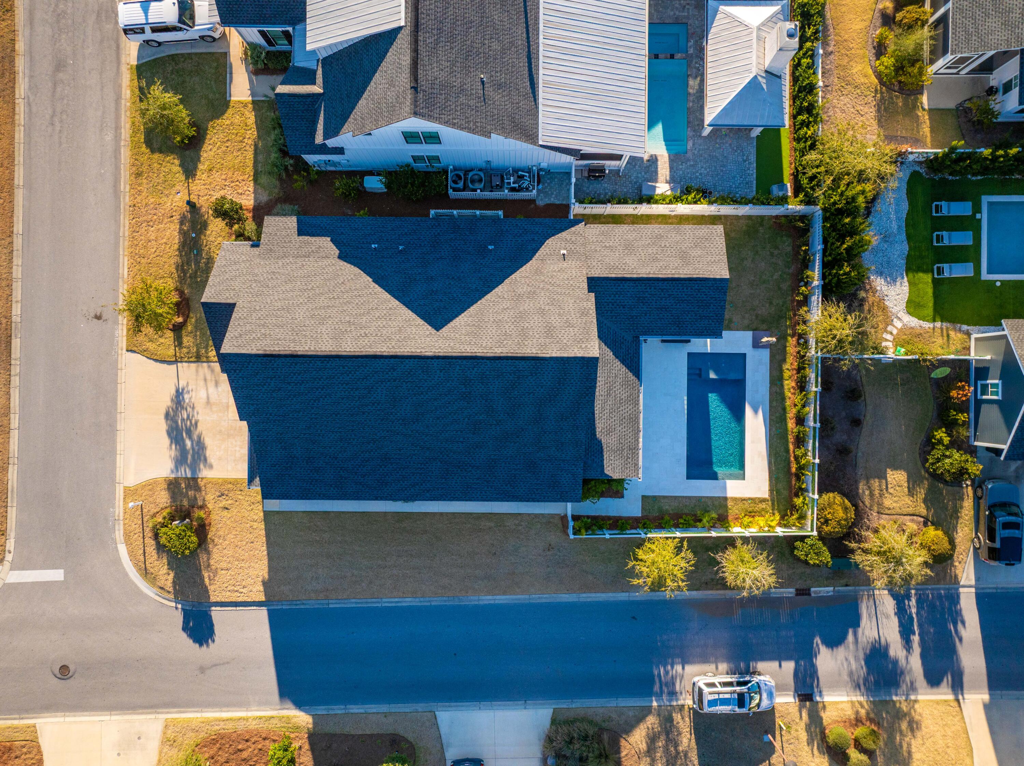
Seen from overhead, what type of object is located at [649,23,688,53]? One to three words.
swimming pool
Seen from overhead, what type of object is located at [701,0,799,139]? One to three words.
building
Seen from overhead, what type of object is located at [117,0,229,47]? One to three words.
car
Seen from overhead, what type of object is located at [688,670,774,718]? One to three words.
car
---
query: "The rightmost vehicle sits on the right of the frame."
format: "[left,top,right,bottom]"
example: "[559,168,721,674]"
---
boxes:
[973,477,1024,564]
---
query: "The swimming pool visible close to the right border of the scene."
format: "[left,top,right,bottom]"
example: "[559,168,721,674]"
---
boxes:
[988,201,1024,274]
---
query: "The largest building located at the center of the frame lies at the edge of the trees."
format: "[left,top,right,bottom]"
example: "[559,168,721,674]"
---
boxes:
[201,215,729,500]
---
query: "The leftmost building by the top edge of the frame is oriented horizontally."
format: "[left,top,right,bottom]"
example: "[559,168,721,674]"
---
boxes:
[216,0,649,175]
